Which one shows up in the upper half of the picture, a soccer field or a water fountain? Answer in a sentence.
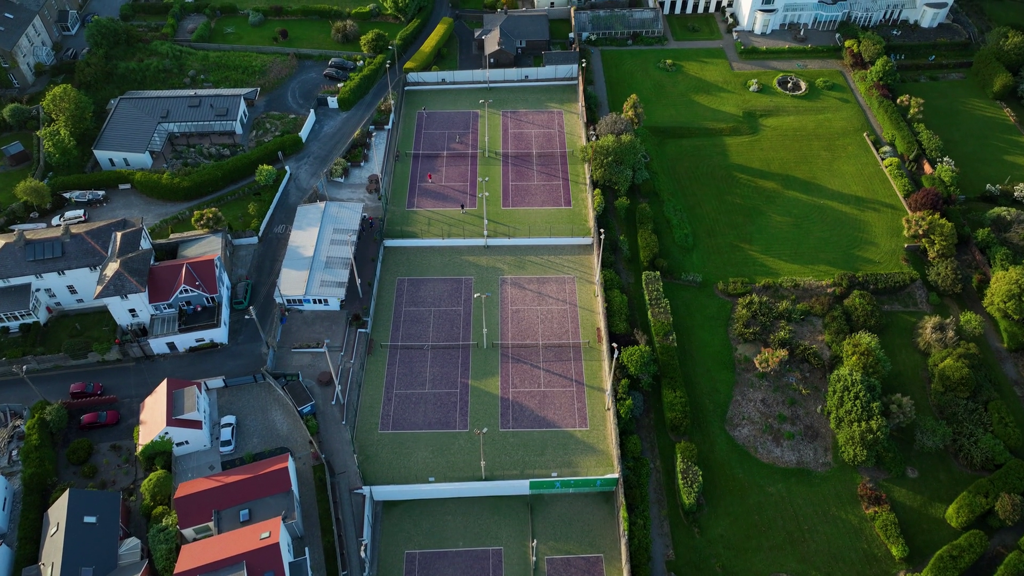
Looking in the upper half of the picture, you will find a water fountain.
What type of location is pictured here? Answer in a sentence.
This image shows a residential area.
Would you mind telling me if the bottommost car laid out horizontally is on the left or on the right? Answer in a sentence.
The bottommost car laid out horizontally appears in the left half of the scene.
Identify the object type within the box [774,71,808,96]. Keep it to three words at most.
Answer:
fountain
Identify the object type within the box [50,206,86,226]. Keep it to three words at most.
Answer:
car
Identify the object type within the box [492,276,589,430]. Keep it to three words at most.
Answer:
tennis court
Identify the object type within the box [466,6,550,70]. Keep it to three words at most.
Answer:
house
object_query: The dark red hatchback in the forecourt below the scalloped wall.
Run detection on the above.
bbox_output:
[77,409,117,429]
